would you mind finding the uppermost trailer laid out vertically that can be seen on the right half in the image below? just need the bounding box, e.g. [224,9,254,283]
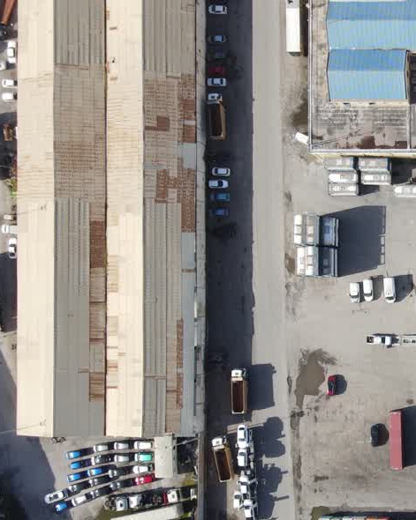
[288,7,306,57]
